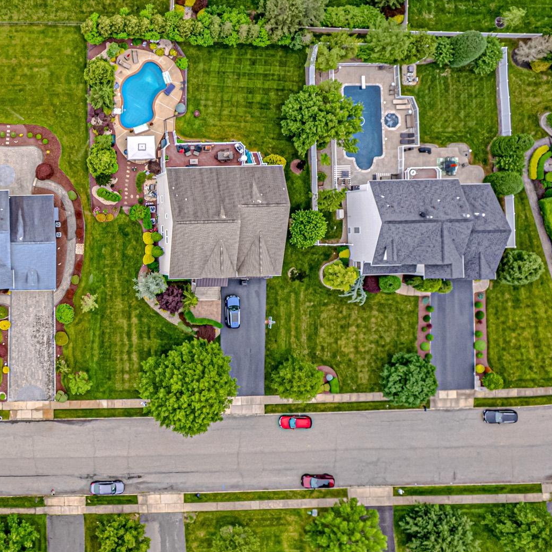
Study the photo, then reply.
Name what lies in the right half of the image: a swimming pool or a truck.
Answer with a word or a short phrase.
swimming pool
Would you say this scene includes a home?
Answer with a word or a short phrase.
Yes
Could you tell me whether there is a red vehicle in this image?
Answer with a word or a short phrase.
Yes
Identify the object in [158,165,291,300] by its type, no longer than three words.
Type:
house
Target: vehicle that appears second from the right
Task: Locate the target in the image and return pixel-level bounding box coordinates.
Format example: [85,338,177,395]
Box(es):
[300,472,334,489]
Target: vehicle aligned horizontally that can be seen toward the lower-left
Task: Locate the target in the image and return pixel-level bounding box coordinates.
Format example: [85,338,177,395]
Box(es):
[89,479,125,496]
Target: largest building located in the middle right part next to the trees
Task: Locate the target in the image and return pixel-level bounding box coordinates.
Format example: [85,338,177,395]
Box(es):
[347,180,514,281]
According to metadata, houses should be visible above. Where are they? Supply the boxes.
[0,190,57,291]
[347,180,514,281]
[158,165,291,300]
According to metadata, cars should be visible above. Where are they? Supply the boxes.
[223,294,242,330]
[300,472,334,489]
[277,413,312,431]
[89,479,125,496]
[480,408,519,425]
